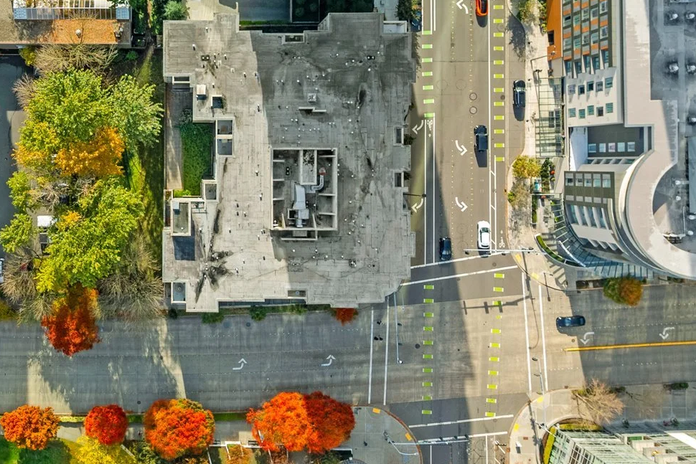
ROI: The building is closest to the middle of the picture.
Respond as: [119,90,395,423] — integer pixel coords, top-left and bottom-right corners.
[163,12,416,312]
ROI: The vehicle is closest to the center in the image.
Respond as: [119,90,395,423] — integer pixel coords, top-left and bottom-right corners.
[438,235,452,263]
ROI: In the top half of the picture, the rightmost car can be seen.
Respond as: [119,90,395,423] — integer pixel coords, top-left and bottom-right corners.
[512,82,527,109]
